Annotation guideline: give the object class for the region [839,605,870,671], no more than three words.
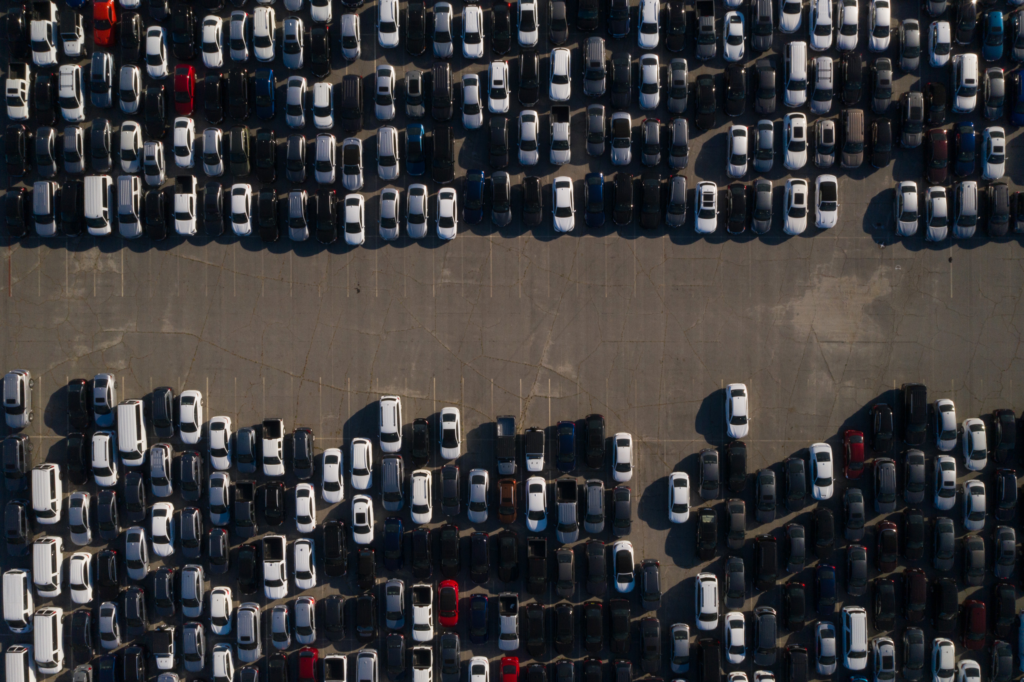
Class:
car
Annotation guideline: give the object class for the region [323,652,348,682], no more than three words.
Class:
truck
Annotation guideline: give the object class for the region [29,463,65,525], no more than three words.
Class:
van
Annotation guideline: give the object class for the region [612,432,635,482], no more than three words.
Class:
car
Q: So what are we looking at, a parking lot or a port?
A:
parking lot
